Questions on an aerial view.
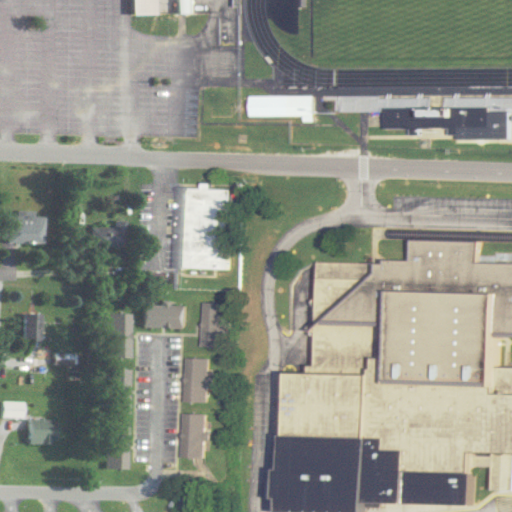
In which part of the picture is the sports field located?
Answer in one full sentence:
Look in the top right portion of the view to spot the sports field.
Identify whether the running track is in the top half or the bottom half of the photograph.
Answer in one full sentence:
The running track sits in the top half of the picture.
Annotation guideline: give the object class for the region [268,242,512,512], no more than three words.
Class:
building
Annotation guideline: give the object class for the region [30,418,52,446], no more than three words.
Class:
house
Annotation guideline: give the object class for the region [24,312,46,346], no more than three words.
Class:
house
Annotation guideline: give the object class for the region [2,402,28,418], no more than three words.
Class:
building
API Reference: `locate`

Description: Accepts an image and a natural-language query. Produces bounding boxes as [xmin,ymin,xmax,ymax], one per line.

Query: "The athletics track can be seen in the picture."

[244,0,512,96]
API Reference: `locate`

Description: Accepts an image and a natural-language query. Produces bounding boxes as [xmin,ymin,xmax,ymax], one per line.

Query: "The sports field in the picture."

[266,0,512,70]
